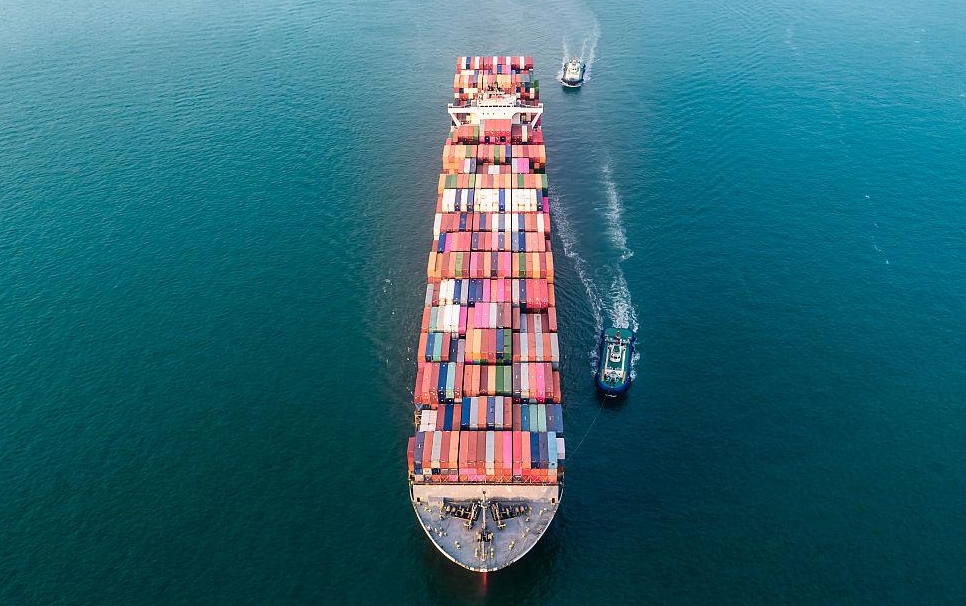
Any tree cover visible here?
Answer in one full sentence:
No, there's no tree cover in this view.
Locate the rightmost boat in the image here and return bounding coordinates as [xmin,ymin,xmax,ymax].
[596,325,634,391]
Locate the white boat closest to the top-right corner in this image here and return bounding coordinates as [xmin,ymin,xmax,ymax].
[561,51,584,86]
